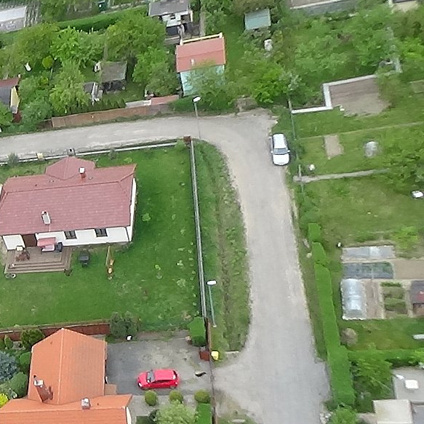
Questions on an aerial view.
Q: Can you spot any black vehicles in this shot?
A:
No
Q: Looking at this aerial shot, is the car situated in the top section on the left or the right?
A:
right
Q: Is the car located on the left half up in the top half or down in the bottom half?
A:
bottom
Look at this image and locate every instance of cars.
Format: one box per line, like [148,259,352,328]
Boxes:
[269,131,290,165]
[138,368,180,390]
